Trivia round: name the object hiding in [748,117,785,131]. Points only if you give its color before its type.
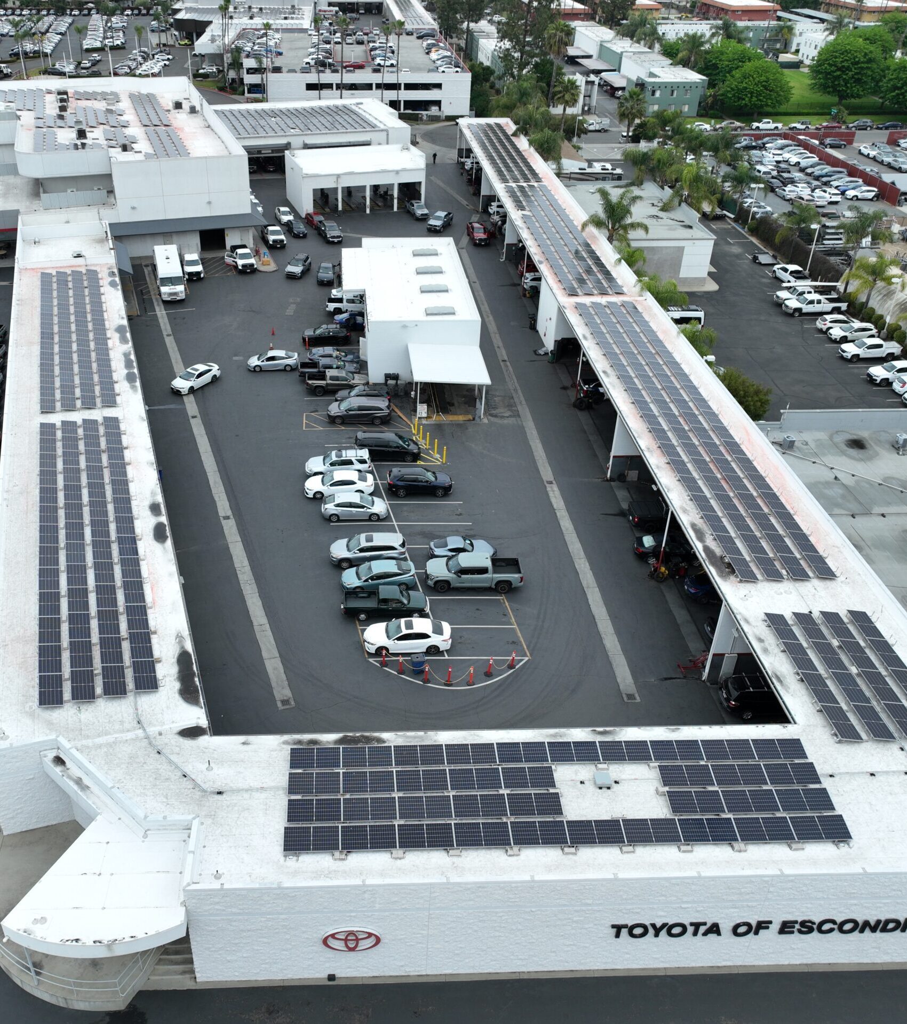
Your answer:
white vehicle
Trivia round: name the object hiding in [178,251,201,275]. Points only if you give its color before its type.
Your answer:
white truck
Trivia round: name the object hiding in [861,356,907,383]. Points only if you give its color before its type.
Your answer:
white truck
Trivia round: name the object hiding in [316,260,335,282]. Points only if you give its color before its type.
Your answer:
gray car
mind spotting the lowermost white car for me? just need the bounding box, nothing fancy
[363,616,451,653]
